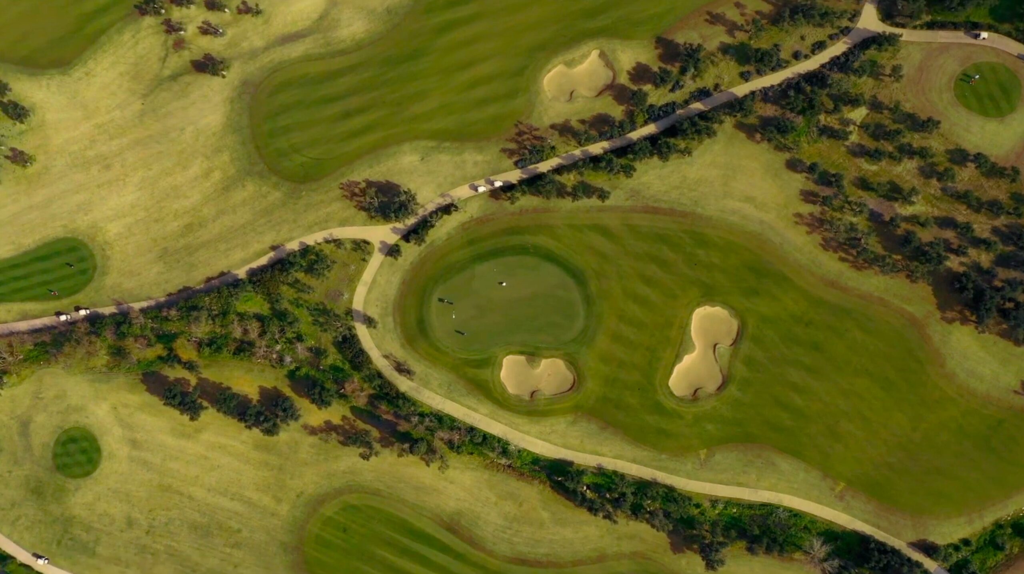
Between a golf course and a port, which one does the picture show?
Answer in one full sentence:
The picture captures a golf course.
